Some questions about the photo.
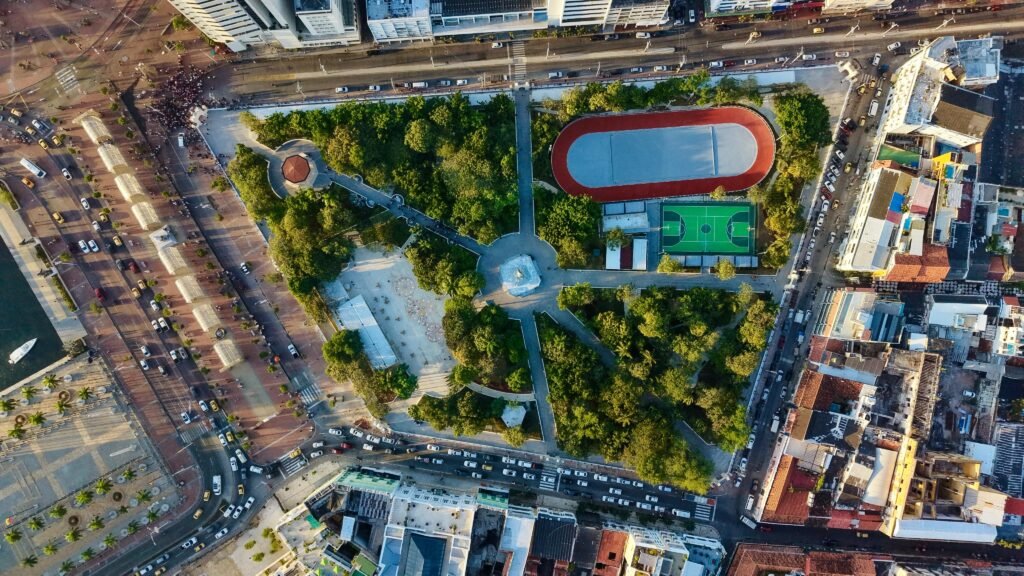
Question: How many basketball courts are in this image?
1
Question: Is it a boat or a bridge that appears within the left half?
boat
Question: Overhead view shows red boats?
No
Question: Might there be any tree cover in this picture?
Yes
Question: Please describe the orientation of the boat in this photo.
on a diagonal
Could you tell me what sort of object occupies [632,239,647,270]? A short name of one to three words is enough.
shed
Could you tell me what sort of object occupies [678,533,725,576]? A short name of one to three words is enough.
building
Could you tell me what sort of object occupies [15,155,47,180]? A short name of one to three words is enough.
bus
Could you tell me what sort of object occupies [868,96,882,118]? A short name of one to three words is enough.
vehicle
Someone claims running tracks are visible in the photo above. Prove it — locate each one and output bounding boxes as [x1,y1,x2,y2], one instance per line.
[552,104,777,203]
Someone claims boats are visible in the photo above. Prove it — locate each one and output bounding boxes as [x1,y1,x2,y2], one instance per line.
[7,339,38,363]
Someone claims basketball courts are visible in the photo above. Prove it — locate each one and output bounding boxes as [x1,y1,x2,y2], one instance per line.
[660,202,757,257]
